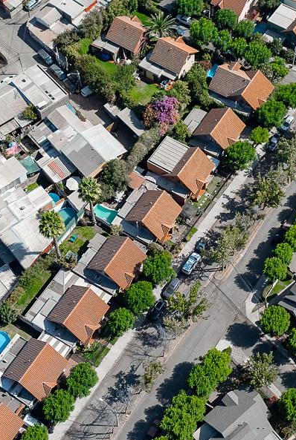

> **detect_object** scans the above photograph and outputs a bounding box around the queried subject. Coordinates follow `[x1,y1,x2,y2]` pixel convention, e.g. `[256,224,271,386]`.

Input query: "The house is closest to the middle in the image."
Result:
[113,181,201,257]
